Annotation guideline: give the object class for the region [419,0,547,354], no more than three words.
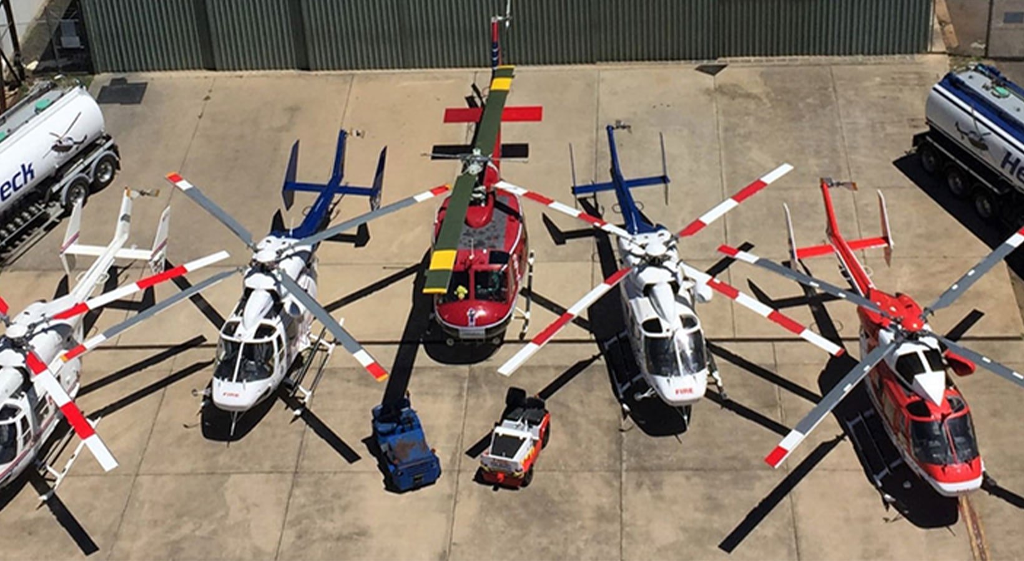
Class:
helicopter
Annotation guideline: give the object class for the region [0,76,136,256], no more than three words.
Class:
trailer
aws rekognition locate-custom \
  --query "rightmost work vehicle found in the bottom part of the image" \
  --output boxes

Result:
[478,389,549,496]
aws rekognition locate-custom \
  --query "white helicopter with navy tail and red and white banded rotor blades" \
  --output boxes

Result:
[495,117,844,440]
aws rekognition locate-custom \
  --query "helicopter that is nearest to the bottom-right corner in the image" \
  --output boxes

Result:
[720,176,1024,499]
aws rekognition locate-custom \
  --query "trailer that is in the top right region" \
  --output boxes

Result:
[898,59,1024,222]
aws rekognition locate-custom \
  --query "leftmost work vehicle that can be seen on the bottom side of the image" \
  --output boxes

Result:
[371,387,435,491]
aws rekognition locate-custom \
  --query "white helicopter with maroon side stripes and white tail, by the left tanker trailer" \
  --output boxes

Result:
[0,183,229,497]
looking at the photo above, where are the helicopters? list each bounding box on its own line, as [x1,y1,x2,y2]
[0,183,229,497]
[720,176,1024,499]
[62,123,451,445]
[495,117,844,440]
[419,0,547,354]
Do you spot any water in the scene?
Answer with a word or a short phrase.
No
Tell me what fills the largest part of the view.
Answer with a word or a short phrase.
paved ground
